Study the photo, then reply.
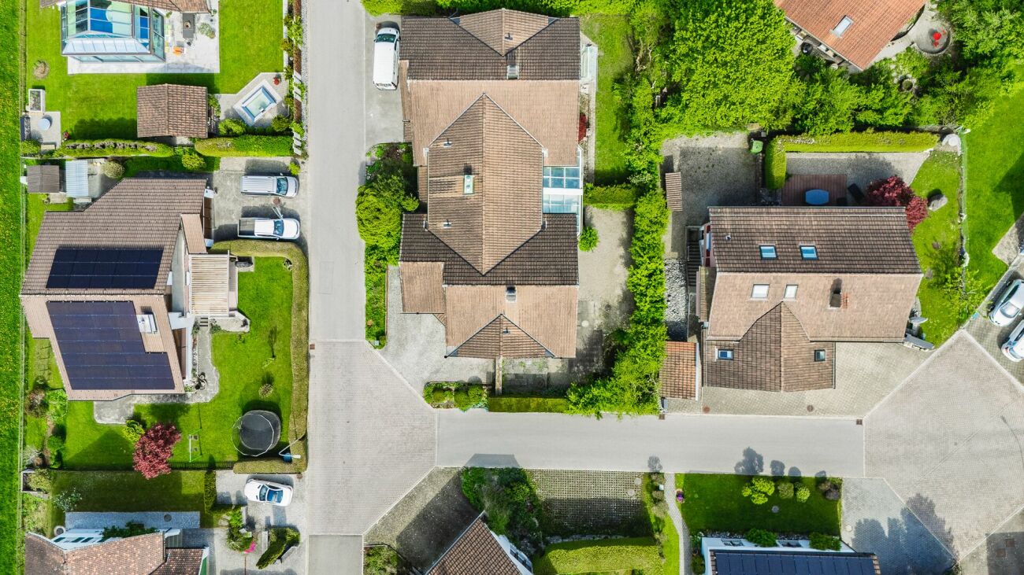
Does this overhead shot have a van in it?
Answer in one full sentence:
Yes, looking at the shot, I can spot a van.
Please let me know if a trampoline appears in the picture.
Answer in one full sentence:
Yes, this view includes a trampoline.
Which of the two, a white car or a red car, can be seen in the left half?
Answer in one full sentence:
It is a white car that can be seen in the left half.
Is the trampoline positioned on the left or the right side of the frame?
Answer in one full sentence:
It is on the left.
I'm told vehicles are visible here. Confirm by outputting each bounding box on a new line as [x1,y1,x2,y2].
[370,27,401,91]
[234,171,299,201]
[243,476,297,506]
[990,269,1024,325]
[1001,310,1024,364]
[233,203,303,242]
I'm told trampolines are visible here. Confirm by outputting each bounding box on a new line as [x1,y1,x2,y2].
[230,409,282,457]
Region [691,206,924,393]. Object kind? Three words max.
house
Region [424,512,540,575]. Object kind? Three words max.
house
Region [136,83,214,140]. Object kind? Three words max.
building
